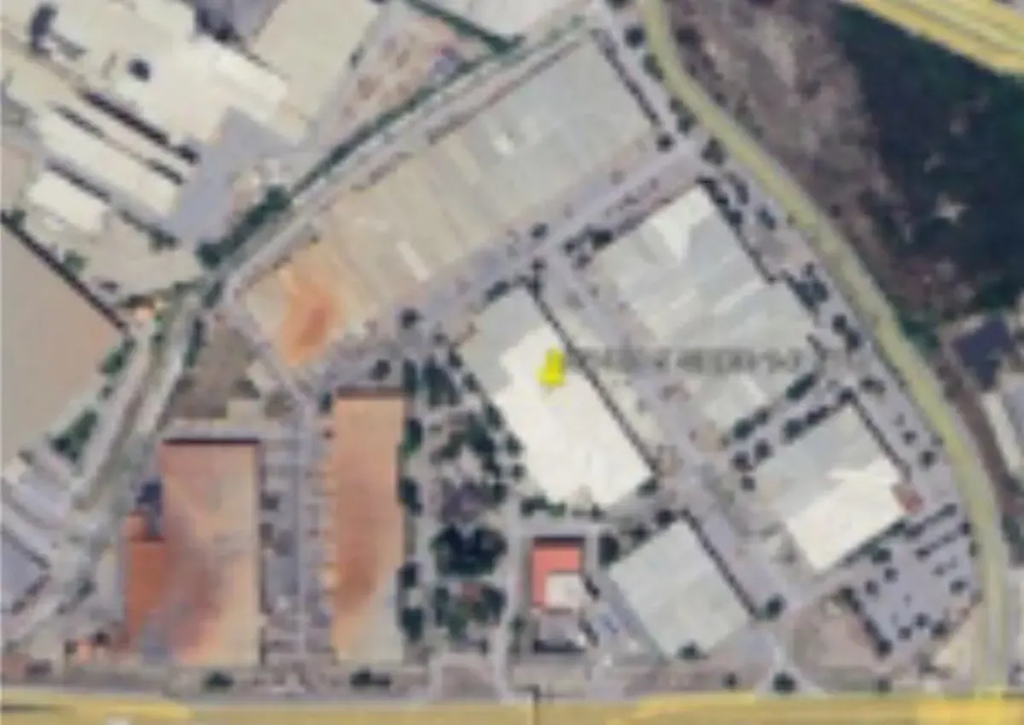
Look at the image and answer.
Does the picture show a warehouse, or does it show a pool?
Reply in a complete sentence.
Looking from above, you can make out a warehouse.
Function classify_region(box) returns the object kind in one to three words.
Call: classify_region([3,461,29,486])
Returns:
house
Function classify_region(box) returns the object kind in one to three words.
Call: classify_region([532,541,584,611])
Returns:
building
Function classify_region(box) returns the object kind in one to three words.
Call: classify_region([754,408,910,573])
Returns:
warehouse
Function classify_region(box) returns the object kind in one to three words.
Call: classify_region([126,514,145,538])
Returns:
shed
